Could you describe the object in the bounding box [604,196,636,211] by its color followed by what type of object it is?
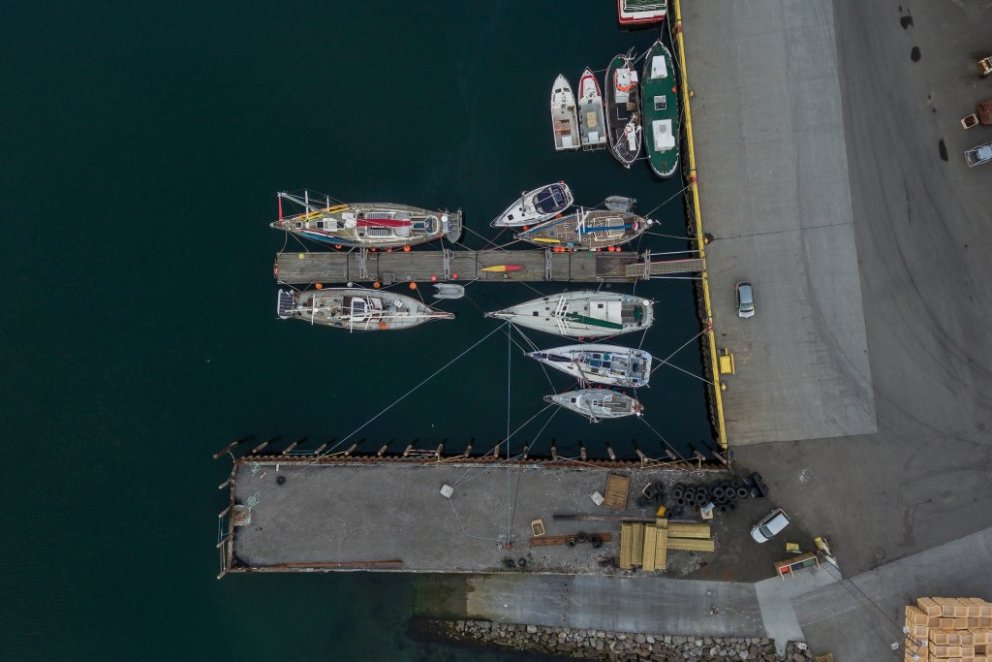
gray boat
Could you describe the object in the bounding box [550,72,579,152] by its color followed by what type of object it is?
white boat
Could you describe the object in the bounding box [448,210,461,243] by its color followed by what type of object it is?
gray boat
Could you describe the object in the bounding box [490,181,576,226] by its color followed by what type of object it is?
white boat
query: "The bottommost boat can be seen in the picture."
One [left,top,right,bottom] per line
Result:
[548,389,644,424]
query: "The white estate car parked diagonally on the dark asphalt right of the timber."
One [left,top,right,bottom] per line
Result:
[747,506,792,543]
